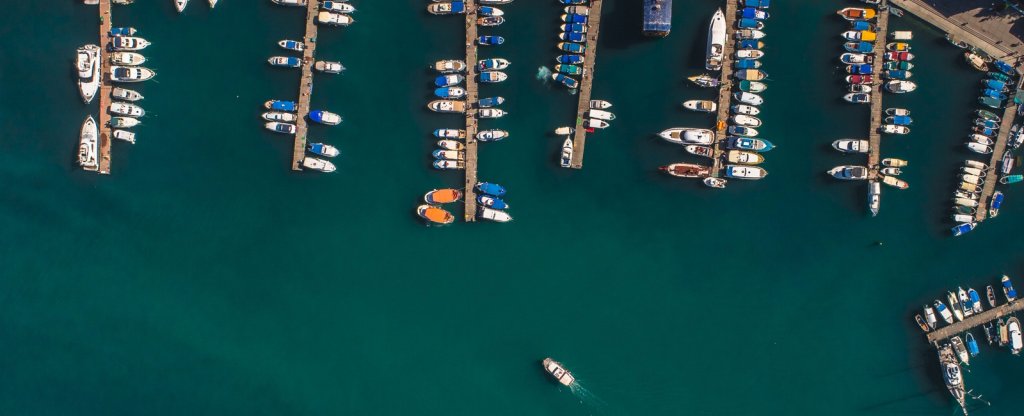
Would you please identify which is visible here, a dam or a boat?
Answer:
boat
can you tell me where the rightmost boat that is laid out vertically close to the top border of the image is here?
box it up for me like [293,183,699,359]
[705,7,726,76]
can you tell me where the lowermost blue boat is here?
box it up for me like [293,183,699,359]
[966,332,981,358]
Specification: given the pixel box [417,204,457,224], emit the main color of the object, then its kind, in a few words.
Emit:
orange boat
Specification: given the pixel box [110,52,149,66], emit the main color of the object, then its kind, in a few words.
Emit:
white boat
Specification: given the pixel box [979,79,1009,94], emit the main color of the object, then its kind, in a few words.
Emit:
blue boat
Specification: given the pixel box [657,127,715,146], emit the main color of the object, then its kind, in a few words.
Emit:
white boat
